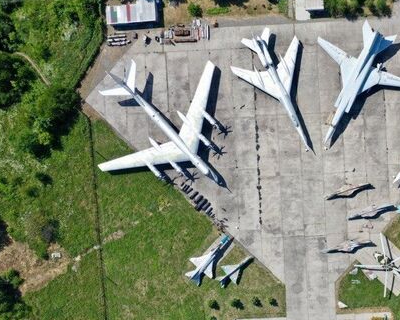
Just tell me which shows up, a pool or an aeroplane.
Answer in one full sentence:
Of the two, only an aeroplane appears.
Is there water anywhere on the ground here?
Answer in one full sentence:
No, no water is visible.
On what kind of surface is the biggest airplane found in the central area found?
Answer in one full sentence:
The biggest airplane found in the central area rests on the apron.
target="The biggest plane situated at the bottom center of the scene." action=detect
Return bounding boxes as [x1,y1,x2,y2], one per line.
[184,233,233,286]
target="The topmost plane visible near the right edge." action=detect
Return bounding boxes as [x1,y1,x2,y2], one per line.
[317,20,400,144]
